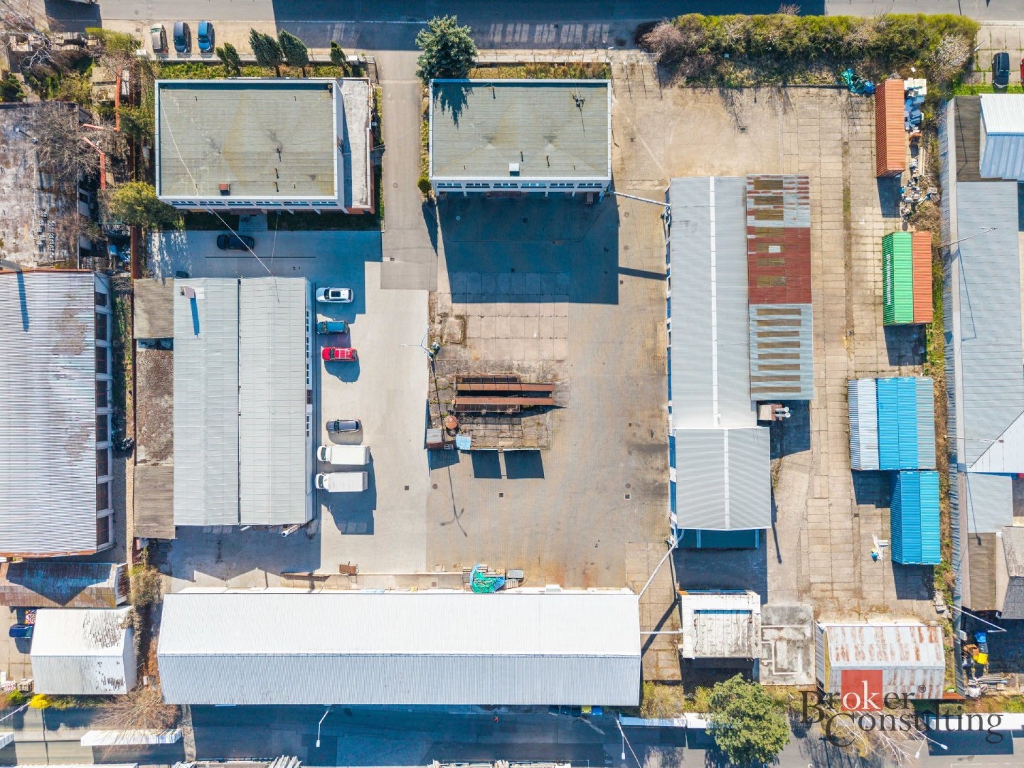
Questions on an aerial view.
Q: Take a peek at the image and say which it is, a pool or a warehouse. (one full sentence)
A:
There is a warehouse in the scene.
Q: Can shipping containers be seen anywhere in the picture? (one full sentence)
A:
Yes, a shipping container appears in the view.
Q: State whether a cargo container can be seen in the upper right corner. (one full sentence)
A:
Yes, the scene does show a cargo container in the upper right corner.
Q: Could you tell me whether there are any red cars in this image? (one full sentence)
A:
Yes, there's a red car down there.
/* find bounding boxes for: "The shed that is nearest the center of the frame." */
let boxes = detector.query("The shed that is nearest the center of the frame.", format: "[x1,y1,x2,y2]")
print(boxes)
[425,428,457,452]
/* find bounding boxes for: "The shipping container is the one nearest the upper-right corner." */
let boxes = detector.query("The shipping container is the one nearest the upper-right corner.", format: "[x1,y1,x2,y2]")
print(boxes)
[874,79,906,177]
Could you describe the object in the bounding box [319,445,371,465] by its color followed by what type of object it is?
white vehicle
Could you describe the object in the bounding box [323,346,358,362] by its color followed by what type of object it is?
red car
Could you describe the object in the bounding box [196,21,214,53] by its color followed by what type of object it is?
blue car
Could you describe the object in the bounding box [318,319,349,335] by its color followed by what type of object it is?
blue car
